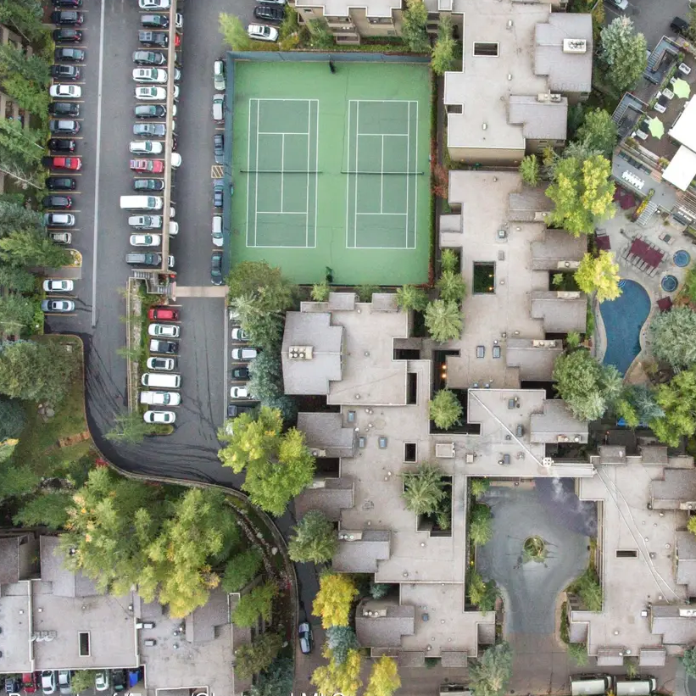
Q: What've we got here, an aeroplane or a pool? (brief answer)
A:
pool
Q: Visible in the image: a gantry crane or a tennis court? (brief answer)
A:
tennis court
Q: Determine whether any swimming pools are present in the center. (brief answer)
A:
No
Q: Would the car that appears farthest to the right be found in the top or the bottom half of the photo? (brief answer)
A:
top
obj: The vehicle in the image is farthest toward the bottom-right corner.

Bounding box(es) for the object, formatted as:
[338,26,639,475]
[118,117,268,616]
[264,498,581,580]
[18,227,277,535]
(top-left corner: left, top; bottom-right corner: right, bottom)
[612,674,656,696]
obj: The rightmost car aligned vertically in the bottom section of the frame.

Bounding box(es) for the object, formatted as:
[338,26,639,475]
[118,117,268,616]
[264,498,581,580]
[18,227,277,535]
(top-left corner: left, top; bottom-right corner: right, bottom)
[297,621,314,653]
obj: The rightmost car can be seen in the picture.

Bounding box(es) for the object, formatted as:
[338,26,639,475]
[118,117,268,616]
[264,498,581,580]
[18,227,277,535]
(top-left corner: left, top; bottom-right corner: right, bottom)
[666,14,690,38]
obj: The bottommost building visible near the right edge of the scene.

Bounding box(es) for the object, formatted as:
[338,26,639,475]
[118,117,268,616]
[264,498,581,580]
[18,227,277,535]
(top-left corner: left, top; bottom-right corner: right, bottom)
[563,438,696,665]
